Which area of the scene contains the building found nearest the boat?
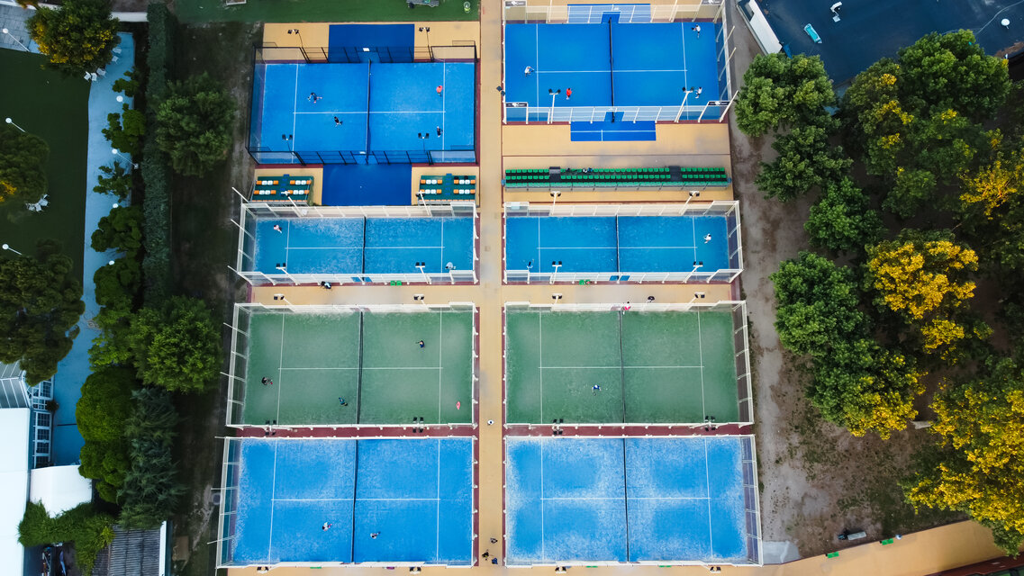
top right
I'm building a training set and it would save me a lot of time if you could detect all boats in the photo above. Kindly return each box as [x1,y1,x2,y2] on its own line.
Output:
[805,24,824,43]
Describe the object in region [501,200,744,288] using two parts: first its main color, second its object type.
blue sports court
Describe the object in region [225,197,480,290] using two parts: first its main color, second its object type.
blue sports court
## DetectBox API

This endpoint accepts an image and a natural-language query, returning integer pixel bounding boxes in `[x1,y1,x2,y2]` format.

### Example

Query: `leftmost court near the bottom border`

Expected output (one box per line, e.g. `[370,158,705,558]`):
[203,435,479,572]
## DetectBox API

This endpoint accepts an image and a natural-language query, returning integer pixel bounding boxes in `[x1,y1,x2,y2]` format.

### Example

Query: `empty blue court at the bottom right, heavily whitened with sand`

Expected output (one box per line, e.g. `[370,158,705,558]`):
[502,434,764,569]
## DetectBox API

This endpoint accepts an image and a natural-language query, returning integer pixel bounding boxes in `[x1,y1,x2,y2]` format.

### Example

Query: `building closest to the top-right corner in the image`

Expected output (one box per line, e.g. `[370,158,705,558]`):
[732,0,783,58]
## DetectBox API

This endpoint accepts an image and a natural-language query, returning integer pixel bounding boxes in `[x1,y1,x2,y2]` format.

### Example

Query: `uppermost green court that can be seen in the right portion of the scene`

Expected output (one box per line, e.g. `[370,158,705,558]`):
[501,299,755,429]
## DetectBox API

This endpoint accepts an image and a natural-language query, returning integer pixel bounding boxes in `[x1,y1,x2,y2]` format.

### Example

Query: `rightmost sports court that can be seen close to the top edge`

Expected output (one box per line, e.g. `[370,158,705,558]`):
[501,0,741,127]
